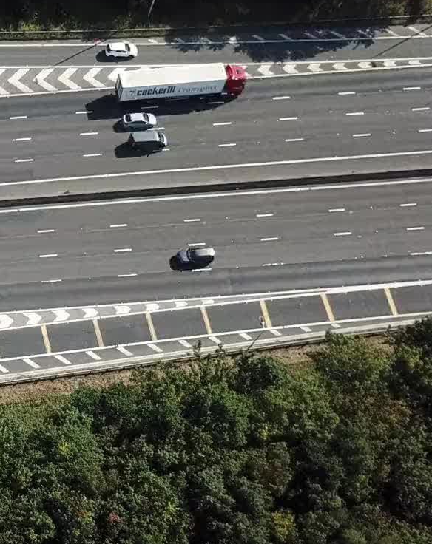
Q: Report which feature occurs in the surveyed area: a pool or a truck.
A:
truck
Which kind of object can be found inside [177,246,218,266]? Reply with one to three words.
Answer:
car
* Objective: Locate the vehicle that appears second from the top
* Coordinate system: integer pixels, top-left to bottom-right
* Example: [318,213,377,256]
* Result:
[113,66,244,107]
